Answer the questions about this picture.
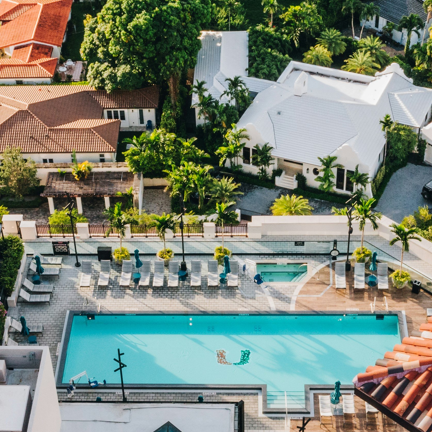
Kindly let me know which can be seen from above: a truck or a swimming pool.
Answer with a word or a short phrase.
swimming pool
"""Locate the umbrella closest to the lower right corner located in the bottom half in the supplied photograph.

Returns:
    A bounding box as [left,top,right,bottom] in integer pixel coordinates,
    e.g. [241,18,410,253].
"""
[330,381,343,416]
